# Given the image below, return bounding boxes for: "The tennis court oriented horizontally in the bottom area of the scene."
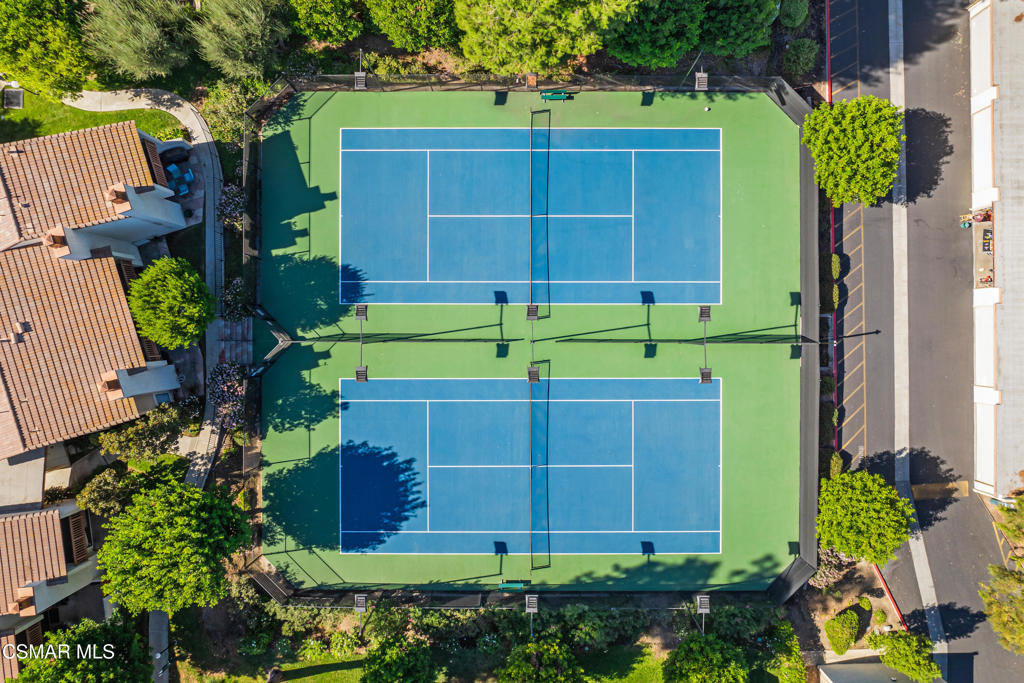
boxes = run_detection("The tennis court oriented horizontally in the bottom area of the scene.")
[256,342,800,591]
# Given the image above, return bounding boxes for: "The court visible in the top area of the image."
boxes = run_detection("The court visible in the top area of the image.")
[256,91,801,342]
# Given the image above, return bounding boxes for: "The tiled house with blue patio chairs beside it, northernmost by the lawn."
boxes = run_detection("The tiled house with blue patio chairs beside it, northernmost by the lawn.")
[0,118,186,252]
